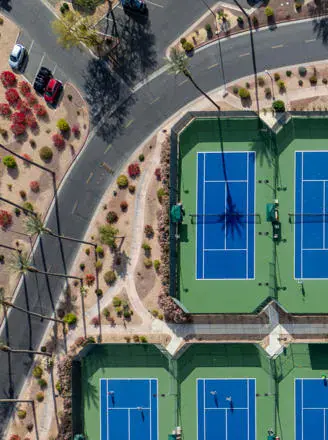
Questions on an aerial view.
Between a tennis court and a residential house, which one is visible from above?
tennis court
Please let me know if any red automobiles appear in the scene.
Yes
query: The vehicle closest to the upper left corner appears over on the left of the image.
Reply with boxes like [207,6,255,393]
[6,44,25,69]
